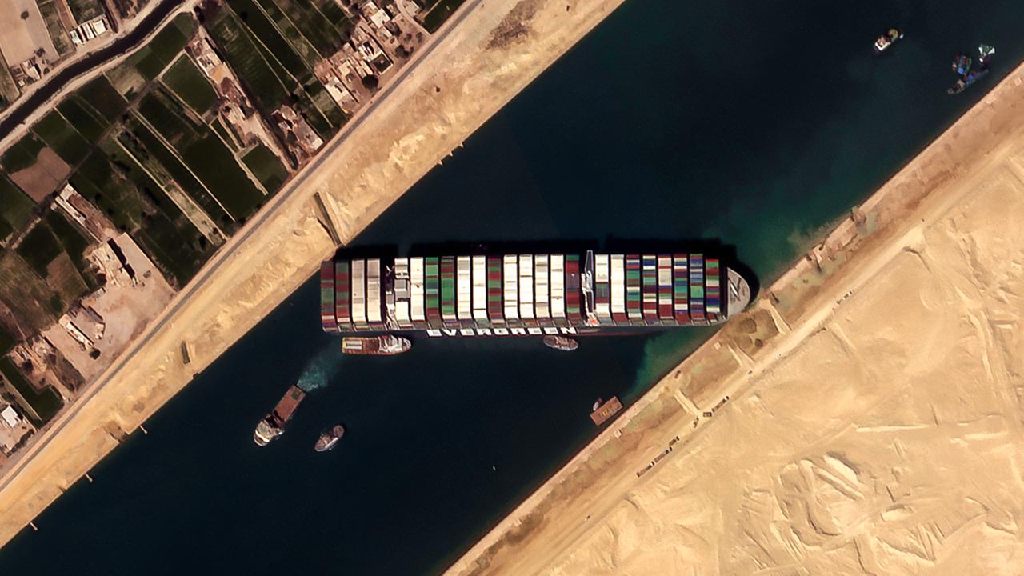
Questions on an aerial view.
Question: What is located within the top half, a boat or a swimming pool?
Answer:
boat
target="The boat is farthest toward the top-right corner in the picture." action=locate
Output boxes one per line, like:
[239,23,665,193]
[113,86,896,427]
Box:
[978,44,995,63]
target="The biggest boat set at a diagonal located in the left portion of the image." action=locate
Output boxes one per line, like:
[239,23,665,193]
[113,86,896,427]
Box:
[256,384,306,445]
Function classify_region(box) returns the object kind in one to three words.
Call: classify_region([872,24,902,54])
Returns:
boat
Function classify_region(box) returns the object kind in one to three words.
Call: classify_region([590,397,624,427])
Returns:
ship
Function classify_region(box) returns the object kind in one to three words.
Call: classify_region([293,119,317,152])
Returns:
house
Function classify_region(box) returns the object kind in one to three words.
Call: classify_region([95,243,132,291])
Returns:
barn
